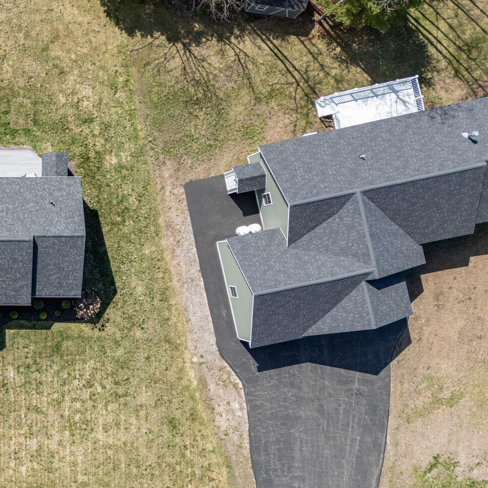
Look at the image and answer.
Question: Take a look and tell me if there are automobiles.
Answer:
No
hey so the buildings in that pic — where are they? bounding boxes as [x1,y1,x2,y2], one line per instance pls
[217,98,488,349]
[243,0,312,18]
[0,153,86,306]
